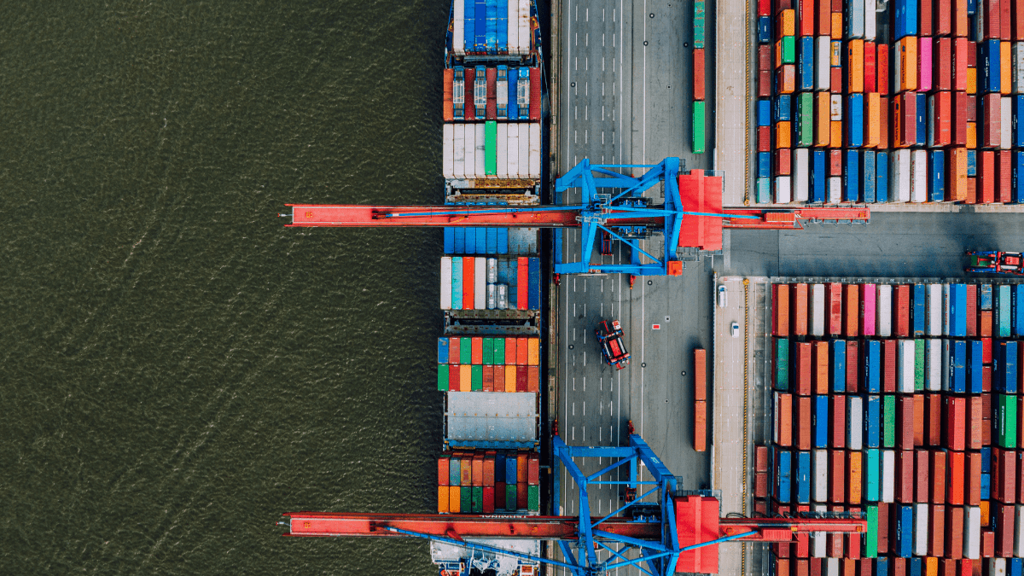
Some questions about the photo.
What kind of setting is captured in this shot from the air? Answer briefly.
port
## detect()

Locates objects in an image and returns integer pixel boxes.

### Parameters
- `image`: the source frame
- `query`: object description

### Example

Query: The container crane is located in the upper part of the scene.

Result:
[273,154,873,287]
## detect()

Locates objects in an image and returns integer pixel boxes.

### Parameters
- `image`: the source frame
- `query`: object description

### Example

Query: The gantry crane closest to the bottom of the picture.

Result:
[272,418,869,576]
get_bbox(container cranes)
[273,154,873,287]
[272,418,869,576]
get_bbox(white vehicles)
[731,321,740,338]
[717,284,728,306]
